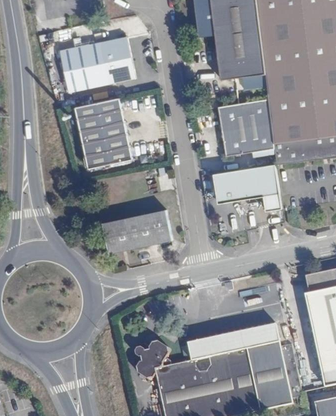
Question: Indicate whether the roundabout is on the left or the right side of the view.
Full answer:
The roundabout is on the left side of the image.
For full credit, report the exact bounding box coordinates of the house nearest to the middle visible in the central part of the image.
[102,209,174,252]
